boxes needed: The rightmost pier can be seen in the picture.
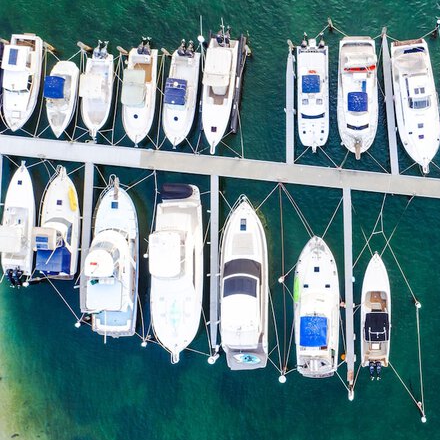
[380,33,401,174]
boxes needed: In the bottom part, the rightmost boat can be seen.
[359,250,393,374]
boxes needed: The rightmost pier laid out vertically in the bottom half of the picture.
[342,188,359,373]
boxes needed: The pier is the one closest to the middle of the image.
[204,175,223,349]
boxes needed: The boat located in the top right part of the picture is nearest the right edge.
[390,39,440,174]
